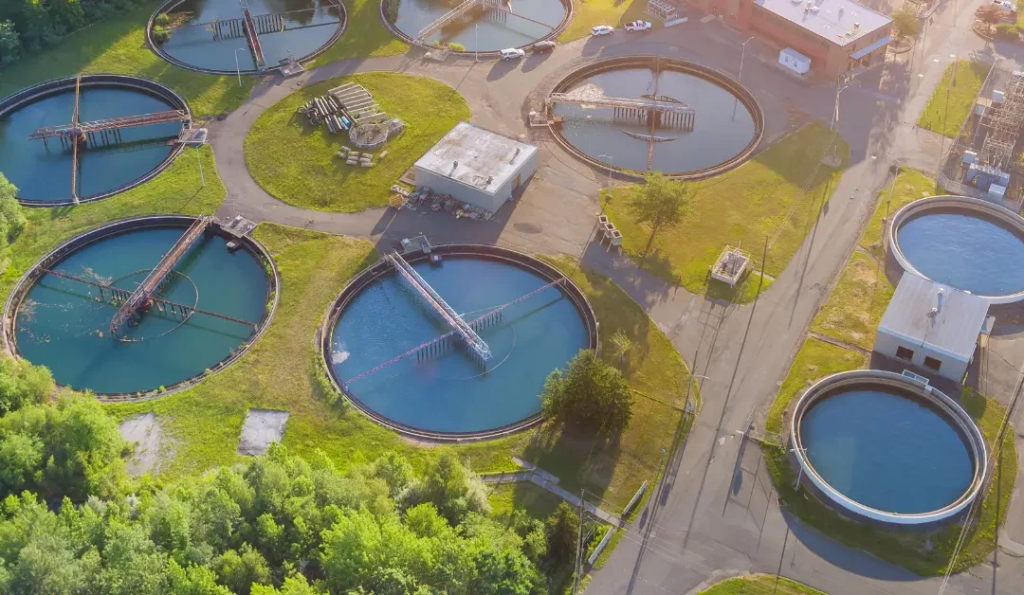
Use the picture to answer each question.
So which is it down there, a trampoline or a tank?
tank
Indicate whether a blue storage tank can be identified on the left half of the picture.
Yes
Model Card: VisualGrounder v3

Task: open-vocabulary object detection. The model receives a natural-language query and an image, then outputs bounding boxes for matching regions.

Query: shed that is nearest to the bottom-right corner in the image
[873,272,995,379]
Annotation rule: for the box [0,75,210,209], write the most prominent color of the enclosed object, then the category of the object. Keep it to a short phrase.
blue storage tank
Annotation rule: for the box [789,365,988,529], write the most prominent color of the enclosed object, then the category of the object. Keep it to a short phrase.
blue storage tank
